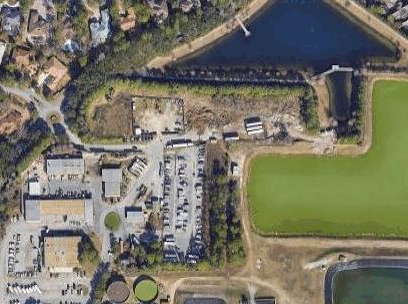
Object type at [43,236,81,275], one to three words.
building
